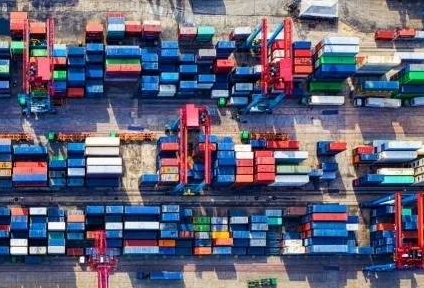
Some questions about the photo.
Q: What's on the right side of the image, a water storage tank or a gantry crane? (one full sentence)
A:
There is a gantry crane on the right side of the image.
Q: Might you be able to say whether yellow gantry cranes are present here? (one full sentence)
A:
No, the picture doesn't show any yellow gantry crane.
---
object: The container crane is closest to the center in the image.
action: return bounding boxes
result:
[164,103,212,195]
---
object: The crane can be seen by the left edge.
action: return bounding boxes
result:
[19,18,58,112]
